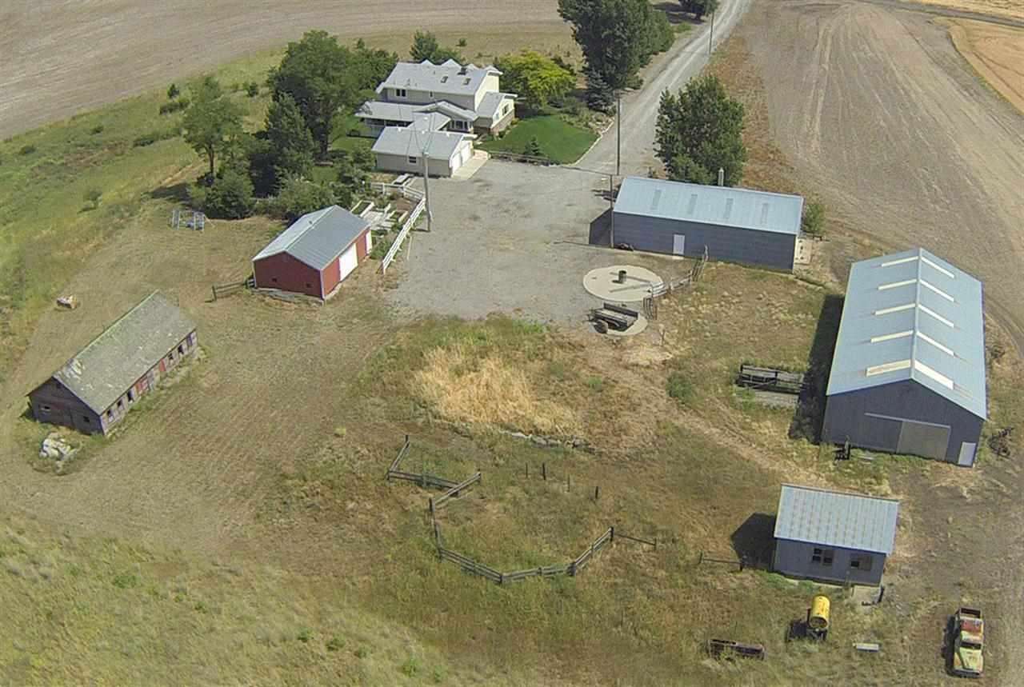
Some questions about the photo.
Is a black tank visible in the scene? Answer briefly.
No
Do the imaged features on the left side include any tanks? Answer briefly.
No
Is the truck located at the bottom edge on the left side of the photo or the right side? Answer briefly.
right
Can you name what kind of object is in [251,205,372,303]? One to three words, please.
barn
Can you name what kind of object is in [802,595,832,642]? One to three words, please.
storage tank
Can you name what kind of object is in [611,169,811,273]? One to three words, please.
shed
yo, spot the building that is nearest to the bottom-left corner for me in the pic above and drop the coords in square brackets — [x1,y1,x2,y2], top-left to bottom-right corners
[25,292,199,435]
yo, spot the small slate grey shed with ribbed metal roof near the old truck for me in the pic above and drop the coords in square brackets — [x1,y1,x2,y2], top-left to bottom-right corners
[771,483,897,589]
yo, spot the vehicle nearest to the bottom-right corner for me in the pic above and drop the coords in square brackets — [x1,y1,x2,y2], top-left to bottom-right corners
[951,601,991,676]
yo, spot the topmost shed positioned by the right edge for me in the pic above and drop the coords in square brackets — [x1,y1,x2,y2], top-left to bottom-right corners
[821,248,987,469]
